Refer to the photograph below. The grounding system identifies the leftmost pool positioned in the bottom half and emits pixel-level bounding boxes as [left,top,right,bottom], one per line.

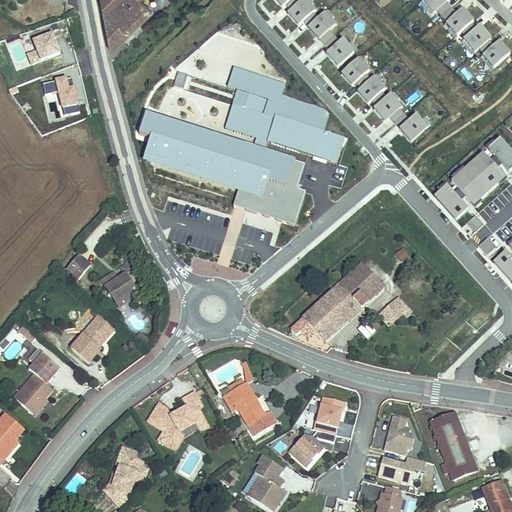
[4,340,22,360]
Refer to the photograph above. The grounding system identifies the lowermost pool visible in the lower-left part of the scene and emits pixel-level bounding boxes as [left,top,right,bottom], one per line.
[64,472,88,494]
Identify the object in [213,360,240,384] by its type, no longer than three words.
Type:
swimming pool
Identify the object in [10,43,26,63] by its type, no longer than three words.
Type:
swimming pool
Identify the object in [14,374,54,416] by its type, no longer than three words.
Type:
house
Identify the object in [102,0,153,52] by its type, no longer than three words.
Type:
barn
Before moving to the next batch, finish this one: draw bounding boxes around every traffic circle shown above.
[179,274,252,344]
